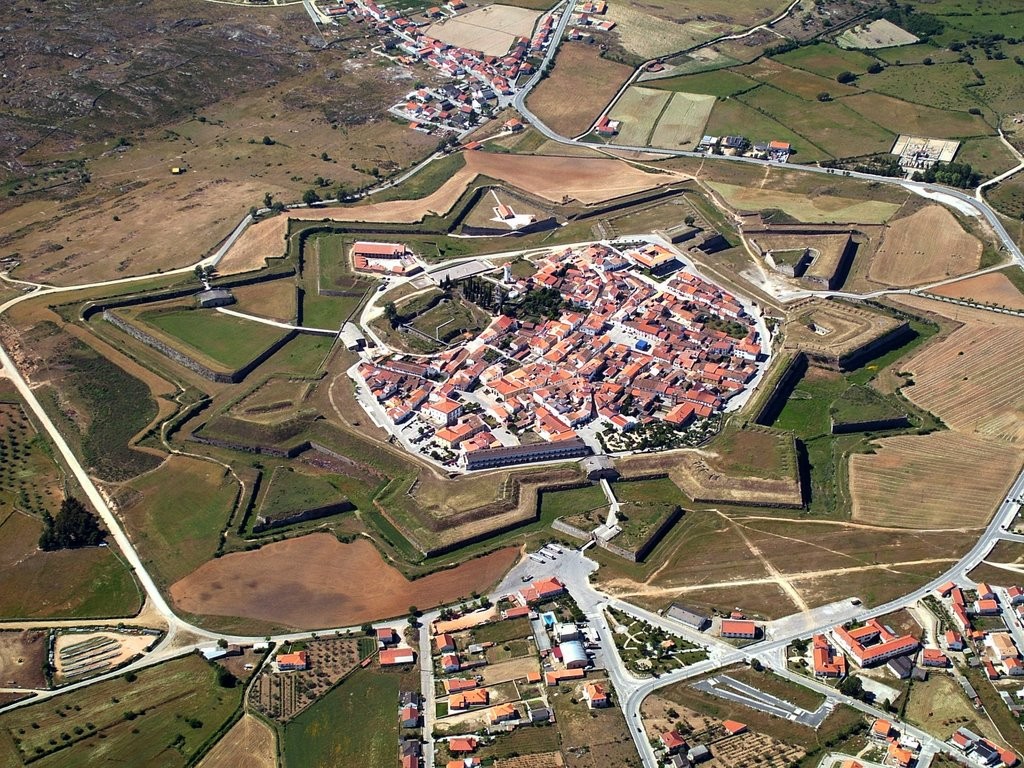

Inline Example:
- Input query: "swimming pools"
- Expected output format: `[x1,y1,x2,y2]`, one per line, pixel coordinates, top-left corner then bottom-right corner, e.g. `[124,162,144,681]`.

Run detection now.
[541,611,557,627]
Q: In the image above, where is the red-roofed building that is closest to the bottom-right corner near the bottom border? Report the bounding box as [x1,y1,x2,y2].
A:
[984,736,1015,768]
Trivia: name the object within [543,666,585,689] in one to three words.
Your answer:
shed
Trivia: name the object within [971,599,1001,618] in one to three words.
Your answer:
house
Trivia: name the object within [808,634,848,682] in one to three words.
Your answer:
building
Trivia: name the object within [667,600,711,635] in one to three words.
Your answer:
barn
